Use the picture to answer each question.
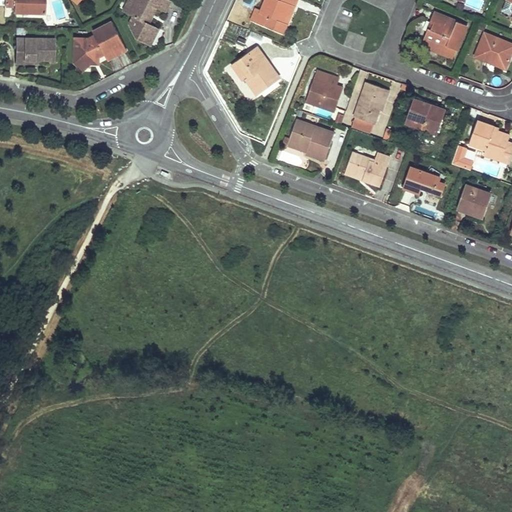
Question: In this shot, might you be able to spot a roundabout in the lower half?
No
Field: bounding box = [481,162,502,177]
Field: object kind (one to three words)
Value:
swimming pool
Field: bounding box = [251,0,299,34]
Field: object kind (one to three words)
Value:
house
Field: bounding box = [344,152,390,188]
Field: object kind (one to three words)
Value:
house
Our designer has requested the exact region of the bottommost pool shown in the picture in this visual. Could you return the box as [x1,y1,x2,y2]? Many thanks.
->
[414,205,436,218]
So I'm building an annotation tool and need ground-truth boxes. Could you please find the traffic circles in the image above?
[113,104,178,164]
